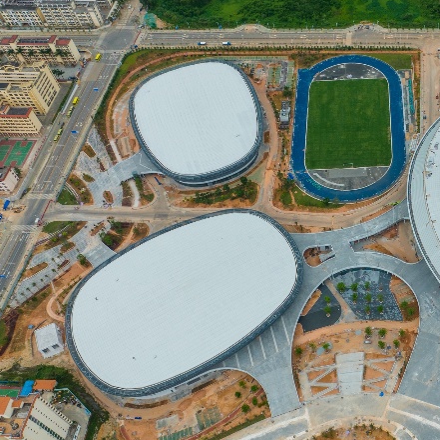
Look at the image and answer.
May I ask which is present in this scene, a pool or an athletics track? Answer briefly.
athletics track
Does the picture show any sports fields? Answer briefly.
Yes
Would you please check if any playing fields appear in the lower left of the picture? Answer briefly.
No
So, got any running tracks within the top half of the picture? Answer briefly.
Yes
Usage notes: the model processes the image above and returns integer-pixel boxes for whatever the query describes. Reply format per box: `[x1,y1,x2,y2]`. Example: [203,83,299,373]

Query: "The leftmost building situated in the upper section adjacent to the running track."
[128,59,264,190]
